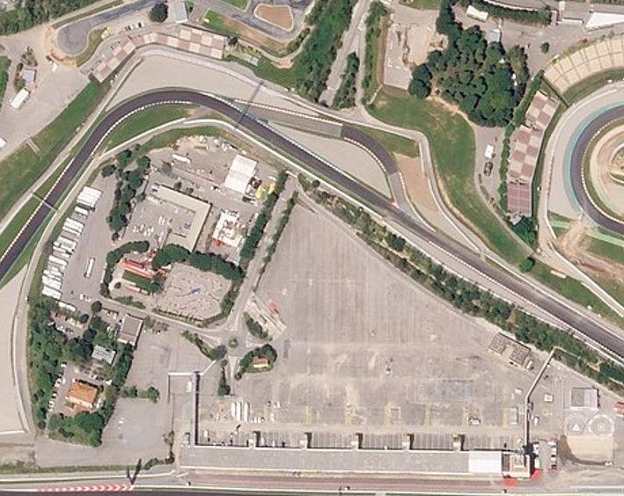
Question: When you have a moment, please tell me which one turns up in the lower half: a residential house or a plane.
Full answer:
There is a residential house in the lower half.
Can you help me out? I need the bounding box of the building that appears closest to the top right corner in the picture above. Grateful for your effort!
[587,12,624,30]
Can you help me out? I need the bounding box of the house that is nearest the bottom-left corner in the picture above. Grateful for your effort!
[68,381,99,418]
